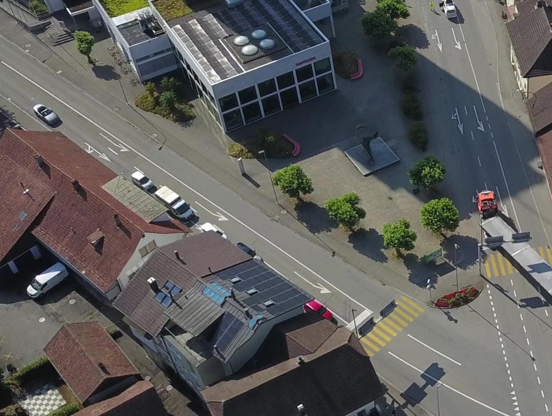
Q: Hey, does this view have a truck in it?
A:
Yes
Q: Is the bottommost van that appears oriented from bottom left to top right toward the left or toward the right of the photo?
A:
left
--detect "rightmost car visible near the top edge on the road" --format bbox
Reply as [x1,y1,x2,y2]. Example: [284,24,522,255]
[437,0,455,18]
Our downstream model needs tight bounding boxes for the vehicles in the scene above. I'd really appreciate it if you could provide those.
[232,238,258,256]
[129,170,156,191]
[151,181,194,220]
[25,260,69,295]
[196,219,229,239]
[312,299,335,319]
[473,183,498,230]
[437,0,455,18]
[32,105,60,125]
